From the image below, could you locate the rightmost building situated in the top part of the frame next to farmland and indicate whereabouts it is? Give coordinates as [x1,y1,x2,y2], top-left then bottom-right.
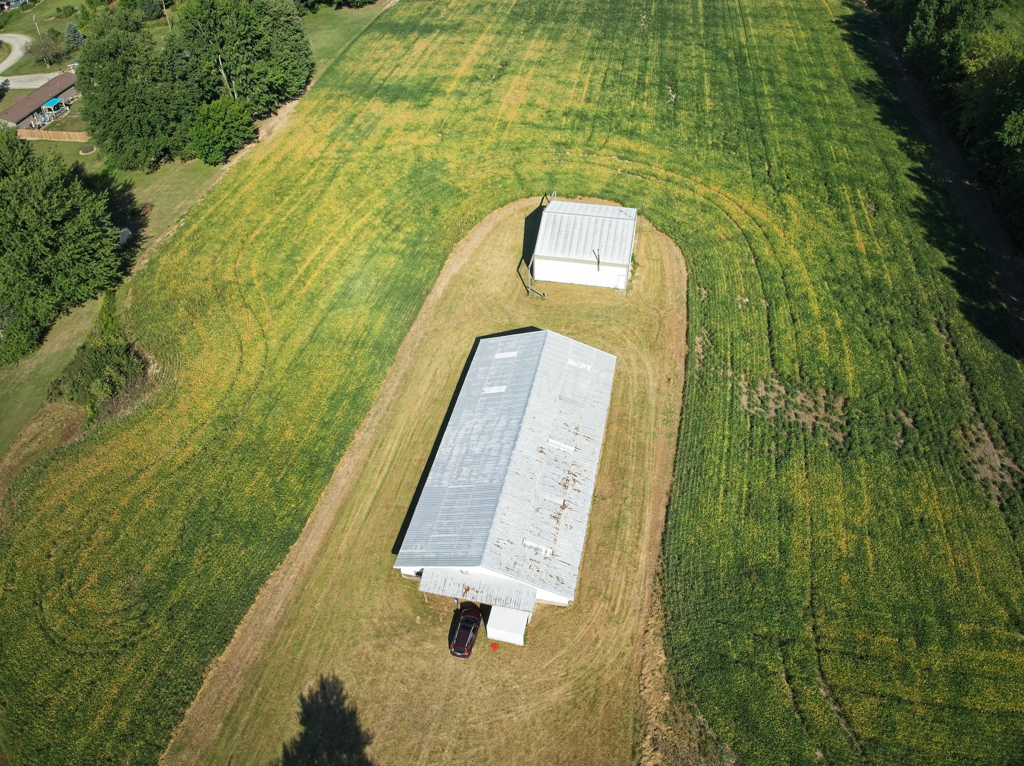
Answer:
[533,200,639,290]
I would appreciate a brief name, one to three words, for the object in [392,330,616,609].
barn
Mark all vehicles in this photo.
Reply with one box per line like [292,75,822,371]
[449,608,481,660]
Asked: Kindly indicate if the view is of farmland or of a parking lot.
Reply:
farmland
